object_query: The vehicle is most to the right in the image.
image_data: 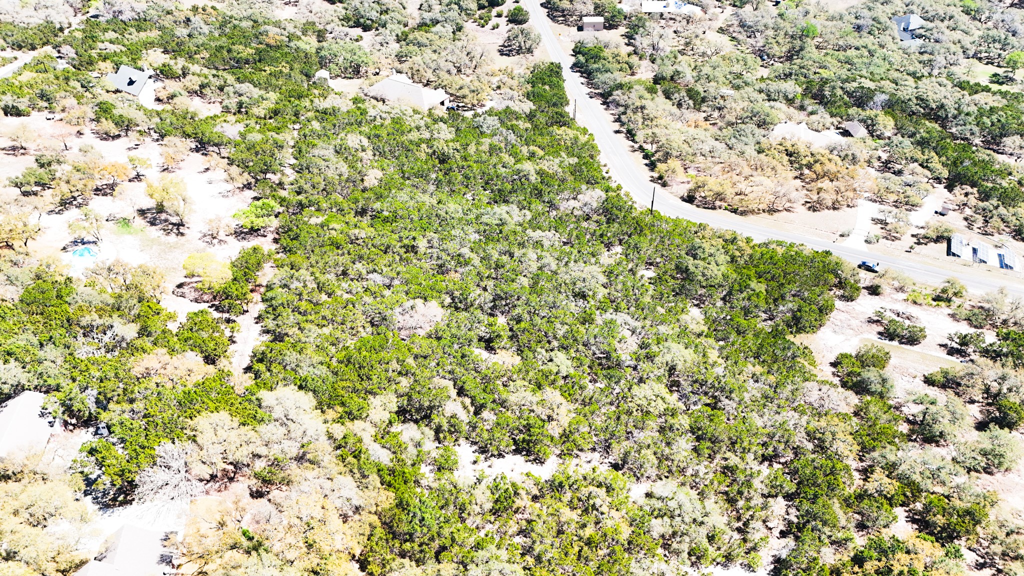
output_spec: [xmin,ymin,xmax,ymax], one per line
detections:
[856,263,881,275]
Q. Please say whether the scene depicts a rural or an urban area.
rural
